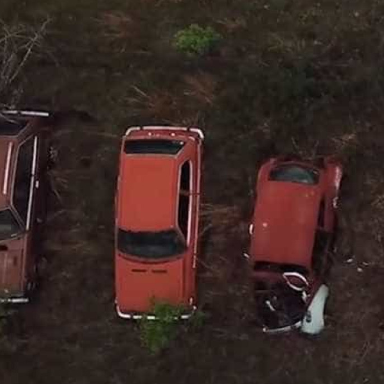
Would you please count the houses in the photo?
0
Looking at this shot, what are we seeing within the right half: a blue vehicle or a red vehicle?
red vehicle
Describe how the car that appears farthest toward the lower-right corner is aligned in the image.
from top to bottom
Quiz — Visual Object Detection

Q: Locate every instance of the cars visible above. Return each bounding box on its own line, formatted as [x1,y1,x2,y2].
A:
[0,109,54,308]
[113,122,207,322]
[246,153,339,345]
